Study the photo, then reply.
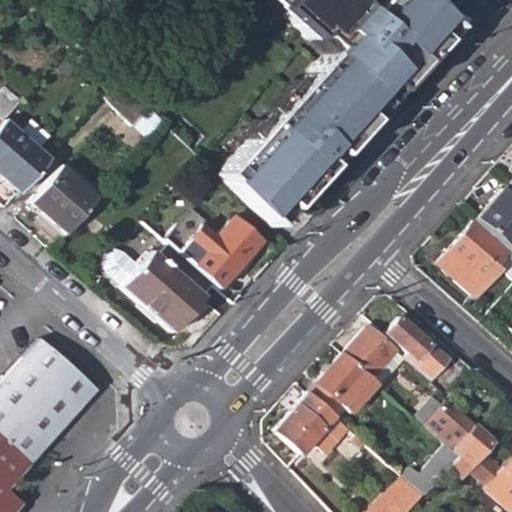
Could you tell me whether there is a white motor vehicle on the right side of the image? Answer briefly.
Yes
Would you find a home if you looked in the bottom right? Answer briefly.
Yes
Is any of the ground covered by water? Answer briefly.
No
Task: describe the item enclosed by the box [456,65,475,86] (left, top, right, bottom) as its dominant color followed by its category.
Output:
gray car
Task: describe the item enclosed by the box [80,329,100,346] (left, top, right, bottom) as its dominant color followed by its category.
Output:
white car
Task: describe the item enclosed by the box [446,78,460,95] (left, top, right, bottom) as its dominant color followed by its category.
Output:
white car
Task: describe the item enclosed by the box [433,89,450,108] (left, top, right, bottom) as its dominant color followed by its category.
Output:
white vehicle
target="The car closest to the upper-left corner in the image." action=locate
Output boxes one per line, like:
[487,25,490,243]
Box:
[8,228,30,248]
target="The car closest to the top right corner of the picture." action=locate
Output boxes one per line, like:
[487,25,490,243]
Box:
[471,50,489,70]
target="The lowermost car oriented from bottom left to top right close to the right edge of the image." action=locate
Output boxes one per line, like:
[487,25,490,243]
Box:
[476,178,498,198]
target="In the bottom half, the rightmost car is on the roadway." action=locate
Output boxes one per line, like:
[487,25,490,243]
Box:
[473,352,492,370]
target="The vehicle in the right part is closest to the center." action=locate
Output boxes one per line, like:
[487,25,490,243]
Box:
[350,208,370,230]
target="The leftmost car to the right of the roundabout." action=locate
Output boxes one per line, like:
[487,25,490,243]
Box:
[230,392,248,412]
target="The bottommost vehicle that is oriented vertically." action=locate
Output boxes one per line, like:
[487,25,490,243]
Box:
[14,325,26,348]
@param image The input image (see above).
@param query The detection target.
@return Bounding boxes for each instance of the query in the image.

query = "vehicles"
[452,146,470,165]
[66,279,86,296]
[230,392,248,412]
[0,252,12,268]
[498,120,512,141]
[446,78,460,95]
[8,228,30,248]
[14,325,26,348]
[350,208,370,230]
[80,329,100,346]
[436,318,457,338]
[433,89,450,108]
[476,178,498,198]
[471,50,489,70]
[362,166,382,187]
[62,314,82,331]
[416,106,436,128]
[473,352,492,370]
[415,299,434,316]
[456,65,475,86]
[46,261,68,281]
[102,312,122,330]
[382,147,400,166]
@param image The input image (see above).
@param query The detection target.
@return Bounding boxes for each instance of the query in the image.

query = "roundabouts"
[174,401,211,438]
